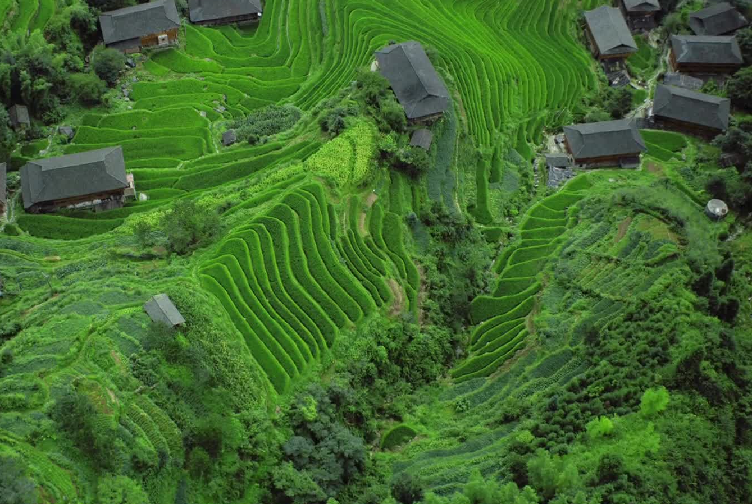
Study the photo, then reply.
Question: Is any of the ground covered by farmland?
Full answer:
Yes, there's farmland in this view.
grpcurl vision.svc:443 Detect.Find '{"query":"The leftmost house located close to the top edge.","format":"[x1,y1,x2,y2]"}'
[93,0,186,56]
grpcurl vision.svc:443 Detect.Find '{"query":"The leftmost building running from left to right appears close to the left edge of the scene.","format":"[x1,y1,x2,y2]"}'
[17,146,137,221]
